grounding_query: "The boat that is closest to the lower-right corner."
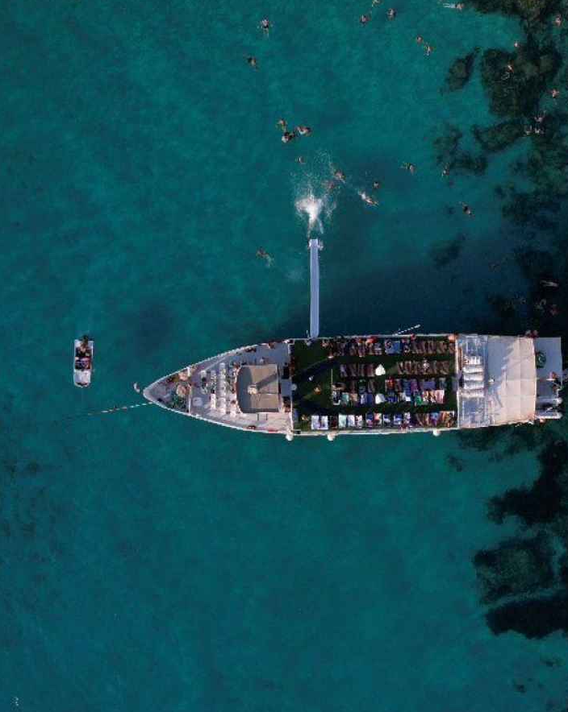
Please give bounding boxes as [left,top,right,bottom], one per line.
[536,399,563,422]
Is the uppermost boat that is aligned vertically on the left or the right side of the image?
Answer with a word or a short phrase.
left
